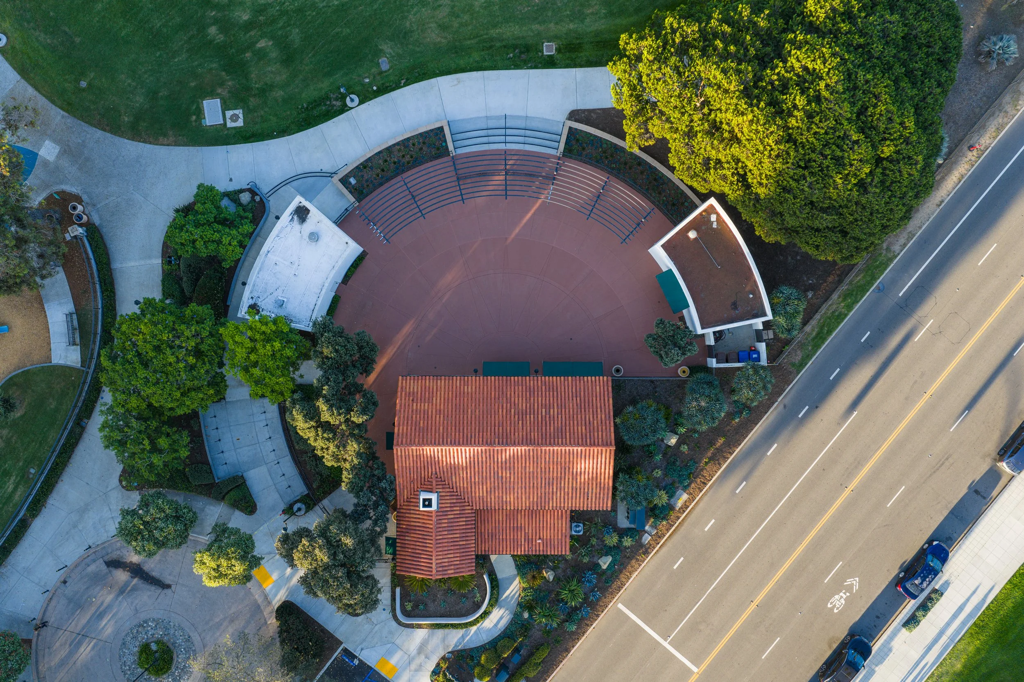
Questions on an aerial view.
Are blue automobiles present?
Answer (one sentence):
Yes, a blue automobile can be made out from above.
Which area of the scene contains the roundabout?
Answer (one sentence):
You can find the roundabout in the bottom left area of the picture.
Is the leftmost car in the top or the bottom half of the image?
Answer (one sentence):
The bottom half of the photo is where the leftmost car is.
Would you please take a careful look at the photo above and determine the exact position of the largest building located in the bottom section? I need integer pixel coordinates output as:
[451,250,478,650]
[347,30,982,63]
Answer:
[385,361,617,582]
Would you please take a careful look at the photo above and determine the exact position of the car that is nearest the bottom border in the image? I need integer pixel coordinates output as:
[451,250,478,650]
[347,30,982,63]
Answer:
[821,639,876,682]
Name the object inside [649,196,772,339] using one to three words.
building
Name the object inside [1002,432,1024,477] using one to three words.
car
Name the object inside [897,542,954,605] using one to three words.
car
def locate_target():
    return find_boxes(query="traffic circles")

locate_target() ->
[40,542,273,682]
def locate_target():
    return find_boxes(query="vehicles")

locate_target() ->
[897,542,954,605]
[821,639,876,682]
[1002,432,1024,477]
